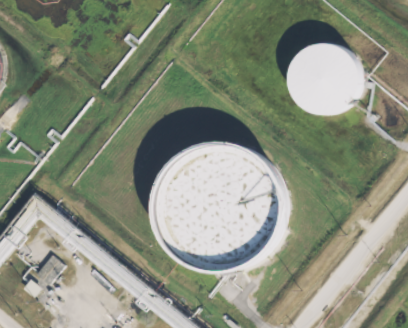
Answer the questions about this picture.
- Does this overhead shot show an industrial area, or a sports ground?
industrial area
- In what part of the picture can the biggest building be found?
bottom left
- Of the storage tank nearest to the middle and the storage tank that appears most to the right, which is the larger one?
the storage tank nearest to the middle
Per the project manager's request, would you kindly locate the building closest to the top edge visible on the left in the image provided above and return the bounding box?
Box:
[38,254,68,286]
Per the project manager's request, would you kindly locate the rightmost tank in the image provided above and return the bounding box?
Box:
[286,42,366,118]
